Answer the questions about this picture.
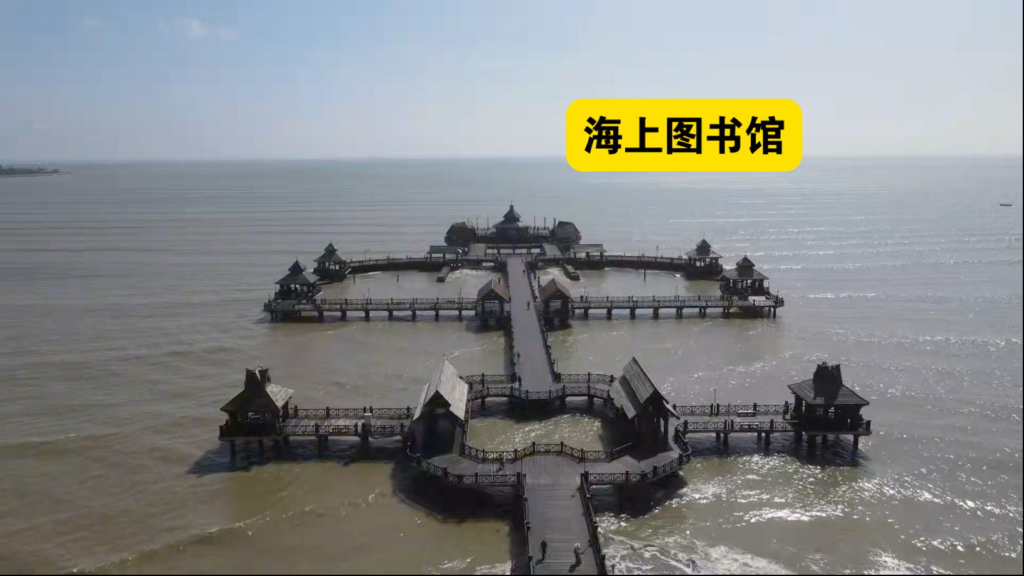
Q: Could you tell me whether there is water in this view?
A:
Yes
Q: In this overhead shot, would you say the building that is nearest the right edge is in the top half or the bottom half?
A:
bottom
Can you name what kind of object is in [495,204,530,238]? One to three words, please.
building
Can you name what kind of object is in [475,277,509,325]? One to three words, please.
shed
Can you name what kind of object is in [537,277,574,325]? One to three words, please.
shed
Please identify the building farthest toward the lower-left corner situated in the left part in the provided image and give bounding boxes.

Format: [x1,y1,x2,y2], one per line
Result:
[211,361,302,456]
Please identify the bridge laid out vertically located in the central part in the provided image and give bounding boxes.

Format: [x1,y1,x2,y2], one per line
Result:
[506,261,554,383]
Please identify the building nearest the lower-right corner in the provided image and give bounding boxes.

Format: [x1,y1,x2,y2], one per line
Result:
[775,355,871,451]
